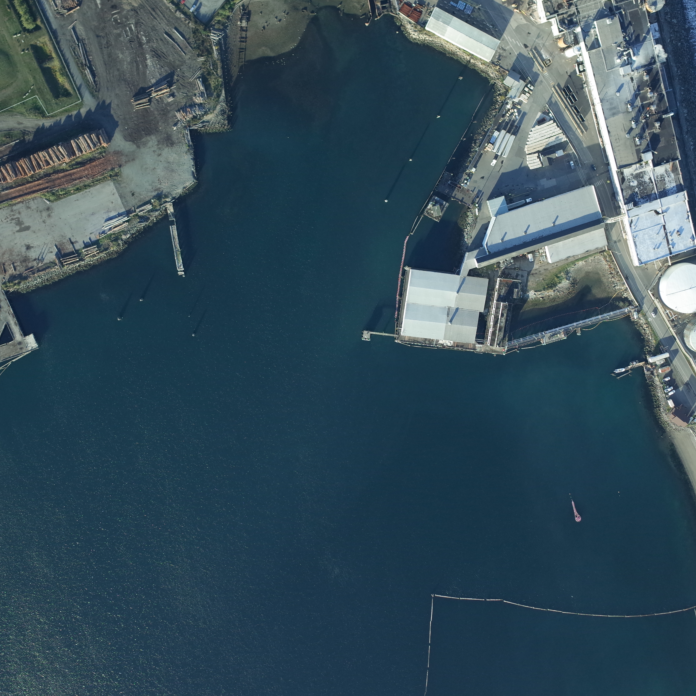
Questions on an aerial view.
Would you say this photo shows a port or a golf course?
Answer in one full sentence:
This image shows a port.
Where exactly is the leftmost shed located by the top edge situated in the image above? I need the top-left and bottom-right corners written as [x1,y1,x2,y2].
[425,8,500,62]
